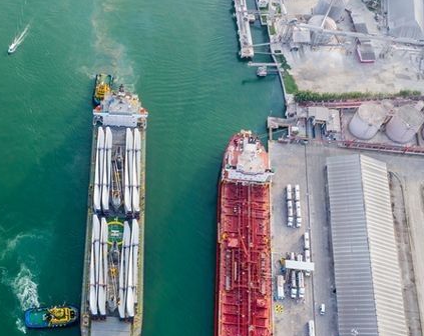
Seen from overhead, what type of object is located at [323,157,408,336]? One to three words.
building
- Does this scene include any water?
Yes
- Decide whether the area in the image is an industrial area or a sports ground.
industrial area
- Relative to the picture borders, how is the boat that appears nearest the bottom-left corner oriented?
from left to right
